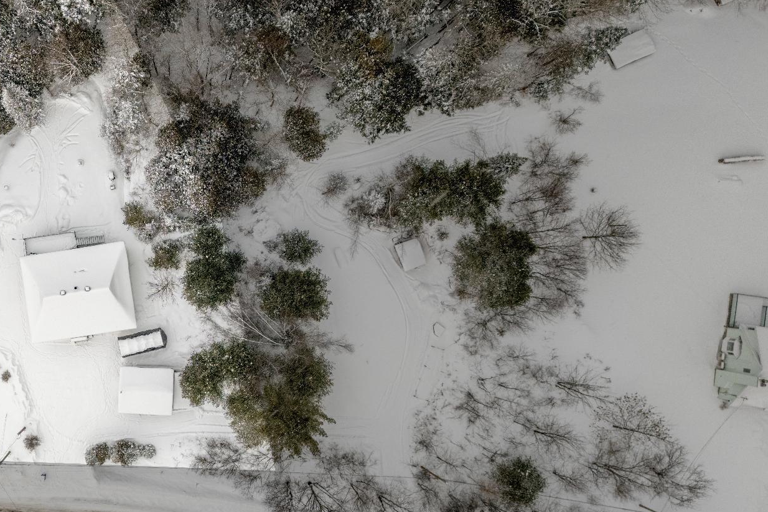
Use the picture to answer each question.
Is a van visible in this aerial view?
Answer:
No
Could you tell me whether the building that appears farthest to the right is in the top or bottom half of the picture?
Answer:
bottom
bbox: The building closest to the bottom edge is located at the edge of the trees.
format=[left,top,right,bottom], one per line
[118,366,190,415]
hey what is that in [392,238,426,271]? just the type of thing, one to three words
shed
